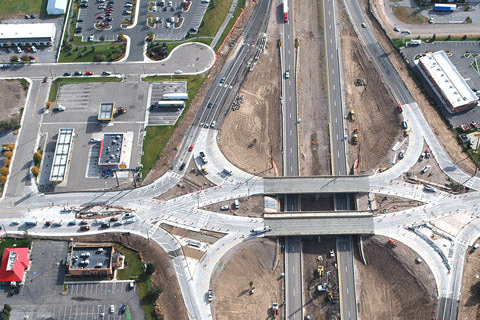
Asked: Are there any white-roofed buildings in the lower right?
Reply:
No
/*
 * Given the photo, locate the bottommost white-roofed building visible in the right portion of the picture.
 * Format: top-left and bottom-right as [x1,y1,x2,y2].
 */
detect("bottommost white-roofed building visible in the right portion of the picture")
[414,49,479,115]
